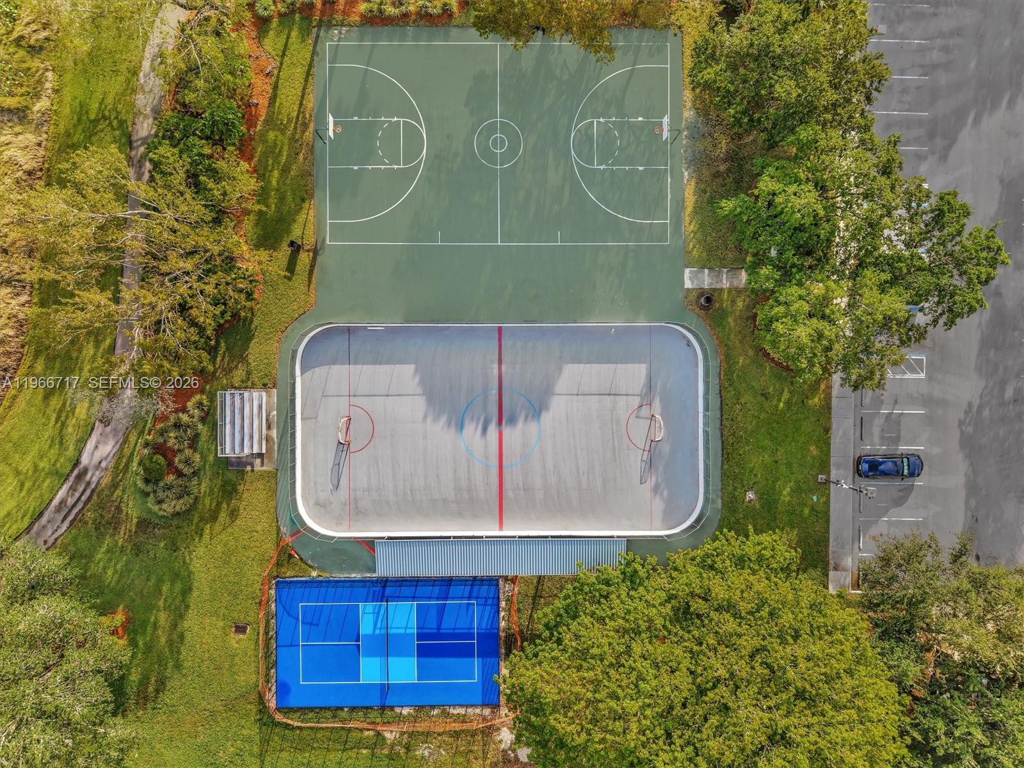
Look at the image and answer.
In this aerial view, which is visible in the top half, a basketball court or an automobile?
basketball court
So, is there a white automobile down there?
No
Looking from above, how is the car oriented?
from left to right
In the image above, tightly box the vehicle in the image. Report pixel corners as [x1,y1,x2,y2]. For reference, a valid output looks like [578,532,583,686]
[853,452,921,481]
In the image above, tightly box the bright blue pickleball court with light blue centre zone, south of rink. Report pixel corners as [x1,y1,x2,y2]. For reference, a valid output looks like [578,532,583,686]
[276,579,499,708]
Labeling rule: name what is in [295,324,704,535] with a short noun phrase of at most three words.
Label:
sports court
